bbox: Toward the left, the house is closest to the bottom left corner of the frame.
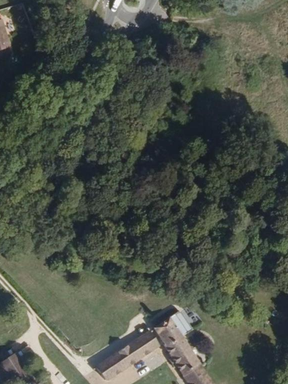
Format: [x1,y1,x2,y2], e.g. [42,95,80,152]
[1,353,26,378]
